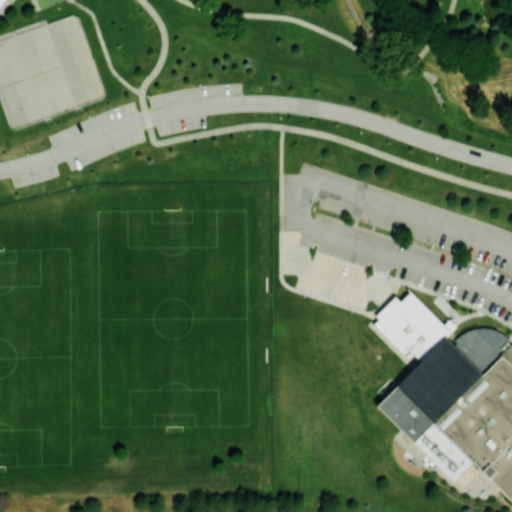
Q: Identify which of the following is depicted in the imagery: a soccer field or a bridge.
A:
soccer field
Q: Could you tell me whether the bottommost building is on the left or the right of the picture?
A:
right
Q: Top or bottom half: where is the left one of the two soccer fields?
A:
bottom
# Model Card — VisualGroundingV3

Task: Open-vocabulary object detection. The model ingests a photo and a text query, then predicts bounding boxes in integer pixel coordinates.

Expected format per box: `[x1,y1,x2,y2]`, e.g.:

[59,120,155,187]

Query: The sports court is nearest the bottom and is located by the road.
[0,15,105,128]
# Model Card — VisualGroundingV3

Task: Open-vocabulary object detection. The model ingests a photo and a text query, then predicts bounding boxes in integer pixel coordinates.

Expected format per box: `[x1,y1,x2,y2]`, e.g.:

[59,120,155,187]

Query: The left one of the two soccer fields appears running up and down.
[0,246,75,469]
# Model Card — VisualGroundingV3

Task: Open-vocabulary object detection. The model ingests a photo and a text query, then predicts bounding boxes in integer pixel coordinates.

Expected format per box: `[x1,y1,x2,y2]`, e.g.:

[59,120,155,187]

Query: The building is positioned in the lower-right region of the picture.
[374,290,512,497]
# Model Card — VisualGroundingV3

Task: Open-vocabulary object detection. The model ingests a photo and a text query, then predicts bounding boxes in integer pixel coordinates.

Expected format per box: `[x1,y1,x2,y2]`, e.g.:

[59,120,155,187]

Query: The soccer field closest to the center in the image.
[95,207,253,432]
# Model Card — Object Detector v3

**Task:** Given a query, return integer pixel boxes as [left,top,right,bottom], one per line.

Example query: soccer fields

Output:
[0,246,75,469]
[95,207,253,432]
